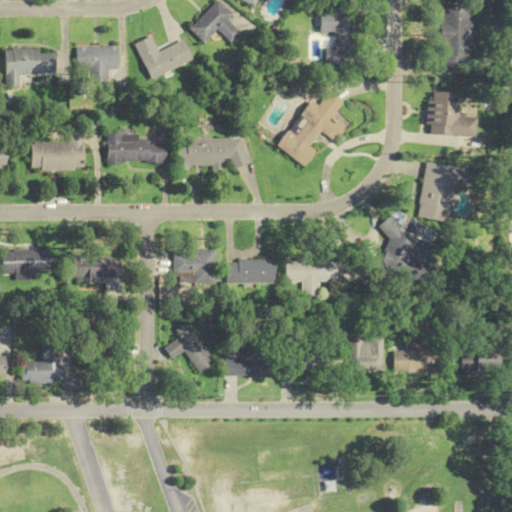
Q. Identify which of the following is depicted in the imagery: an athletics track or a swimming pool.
swimming pool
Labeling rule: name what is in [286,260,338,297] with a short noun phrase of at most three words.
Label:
house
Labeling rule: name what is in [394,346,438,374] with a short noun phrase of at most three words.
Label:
house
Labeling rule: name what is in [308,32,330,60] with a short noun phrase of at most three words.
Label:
swimming pool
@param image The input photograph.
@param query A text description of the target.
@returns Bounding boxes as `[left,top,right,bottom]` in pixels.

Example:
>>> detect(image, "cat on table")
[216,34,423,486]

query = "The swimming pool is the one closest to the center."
[258,94,306,142]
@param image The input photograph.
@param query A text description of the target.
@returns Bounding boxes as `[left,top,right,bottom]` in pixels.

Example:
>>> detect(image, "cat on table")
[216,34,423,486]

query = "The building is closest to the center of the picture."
[228,258,277,284]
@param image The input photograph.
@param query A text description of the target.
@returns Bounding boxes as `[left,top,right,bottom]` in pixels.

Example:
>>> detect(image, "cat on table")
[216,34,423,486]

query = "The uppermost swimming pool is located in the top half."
[262,0,283,22]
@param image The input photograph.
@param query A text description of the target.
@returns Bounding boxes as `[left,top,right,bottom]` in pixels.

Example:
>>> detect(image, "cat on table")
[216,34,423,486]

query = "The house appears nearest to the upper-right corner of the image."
[441,8,472,62]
